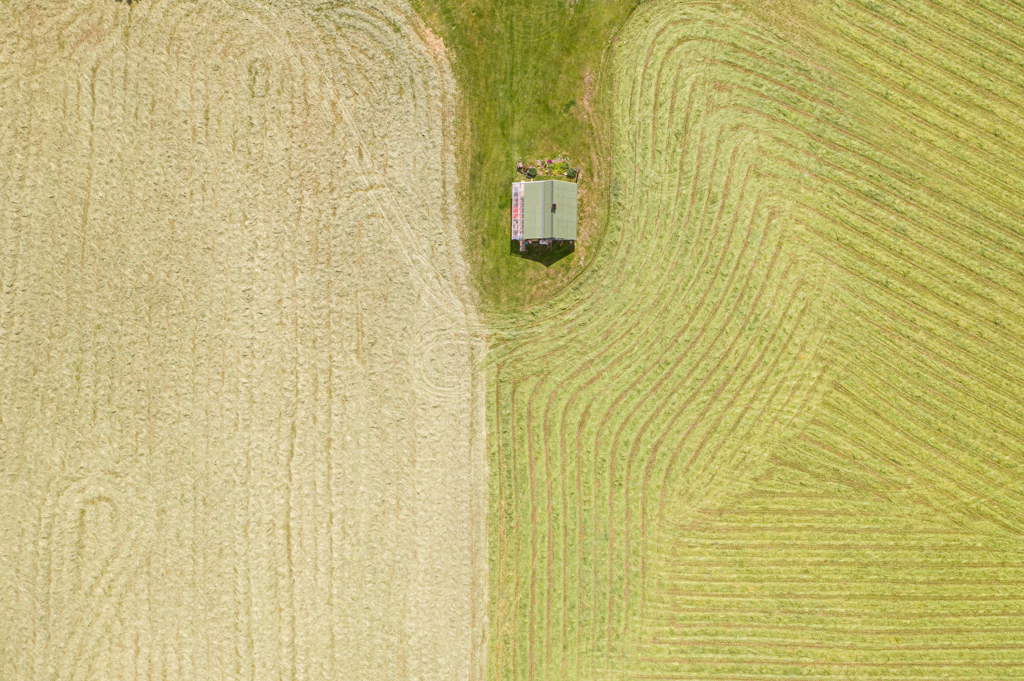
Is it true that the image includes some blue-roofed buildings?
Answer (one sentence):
No, no blue-roofed building is visible in the view.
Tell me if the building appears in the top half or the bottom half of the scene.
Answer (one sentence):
It is in the top half that the building appears.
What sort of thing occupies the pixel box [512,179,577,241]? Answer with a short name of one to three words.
building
